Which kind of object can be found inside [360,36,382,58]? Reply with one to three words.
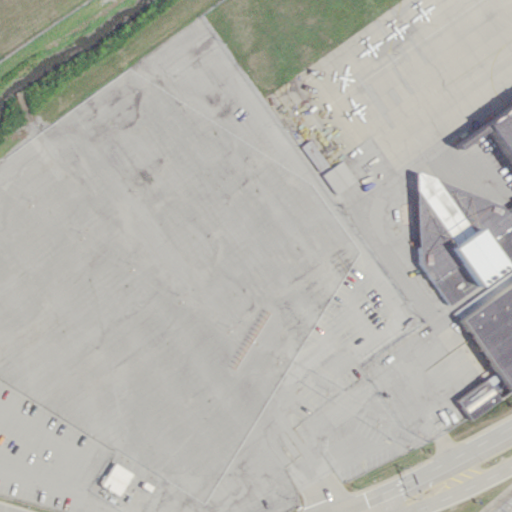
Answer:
airplane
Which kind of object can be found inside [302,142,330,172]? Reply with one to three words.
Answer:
shed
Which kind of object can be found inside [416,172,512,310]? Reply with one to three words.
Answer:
building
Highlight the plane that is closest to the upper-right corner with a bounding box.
[413,1,435,22]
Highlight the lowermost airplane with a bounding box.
[346,98,366,122]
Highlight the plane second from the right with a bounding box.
[388,19,410,40]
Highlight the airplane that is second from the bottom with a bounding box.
[334,66,356,92]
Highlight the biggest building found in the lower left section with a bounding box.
[100,462,136,496]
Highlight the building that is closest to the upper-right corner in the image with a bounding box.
[454,106,512,168]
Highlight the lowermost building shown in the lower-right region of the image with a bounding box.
[456,376,502,419]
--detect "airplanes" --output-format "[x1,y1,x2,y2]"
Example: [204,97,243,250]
[360,36,382,58]
[334,66,356,92]
[388,19,410,40]
[413,1,435,22]
[346,98,366,122]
